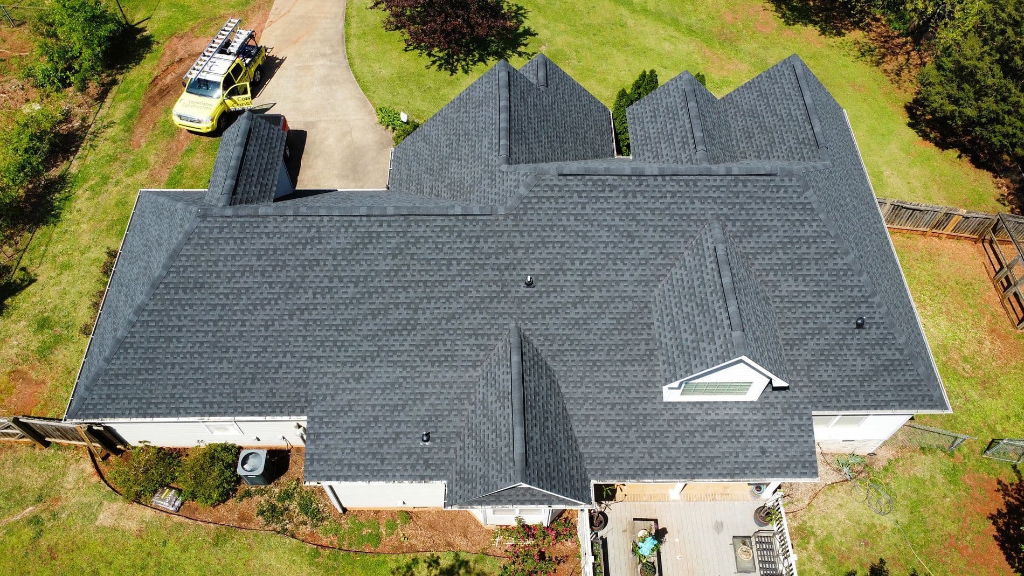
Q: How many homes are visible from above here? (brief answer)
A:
1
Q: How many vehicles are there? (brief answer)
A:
2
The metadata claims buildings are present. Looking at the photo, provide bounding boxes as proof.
[60,51,955,537]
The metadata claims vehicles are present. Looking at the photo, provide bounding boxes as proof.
[171,24,275,137]
[252,114,290,168]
